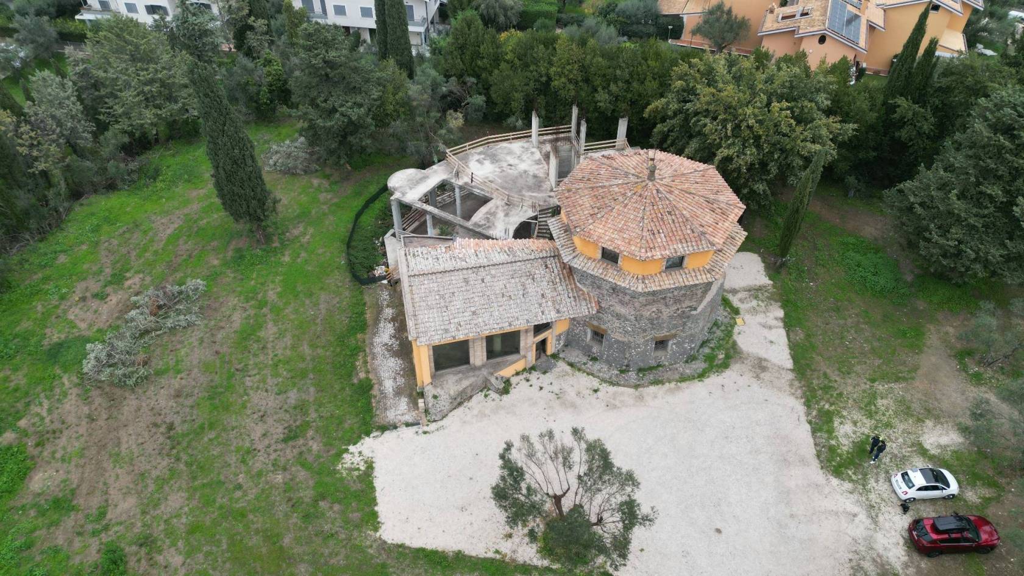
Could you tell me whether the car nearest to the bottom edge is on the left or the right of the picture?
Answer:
right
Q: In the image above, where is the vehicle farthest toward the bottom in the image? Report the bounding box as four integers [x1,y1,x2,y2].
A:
[904,507,1002,557]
